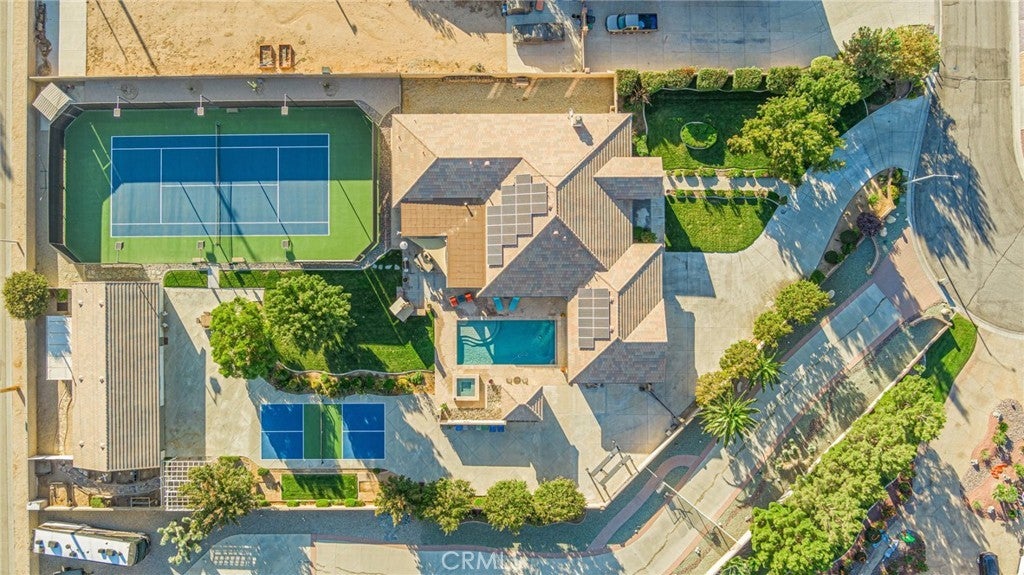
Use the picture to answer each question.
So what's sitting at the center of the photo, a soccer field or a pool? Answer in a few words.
pool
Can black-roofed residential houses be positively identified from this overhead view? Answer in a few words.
No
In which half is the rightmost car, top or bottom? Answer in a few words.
bottom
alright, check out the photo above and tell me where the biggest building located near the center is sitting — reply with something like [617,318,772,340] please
[391,112,667,384]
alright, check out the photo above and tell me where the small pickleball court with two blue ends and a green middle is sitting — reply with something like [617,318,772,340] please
[261,404,384,460]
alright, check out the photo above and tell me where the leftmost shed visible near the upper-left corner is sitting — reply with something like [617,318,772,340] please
[32,82,77,121]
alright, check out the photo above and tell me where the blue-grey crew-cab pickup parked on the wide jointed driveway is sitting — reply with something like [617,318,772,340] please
[604,11,659,35]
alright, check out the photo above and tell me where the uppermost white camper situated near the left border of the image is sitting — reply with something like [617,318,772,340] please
[34,521,153,567]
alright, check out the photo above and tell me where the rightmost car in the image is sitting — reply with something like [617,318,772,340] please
[974,553,999,575]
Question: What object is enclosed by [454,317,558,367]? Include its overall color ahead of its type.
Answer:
blue swimming pool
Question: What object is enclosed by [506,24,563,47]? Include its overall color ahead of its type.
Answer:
gray trailer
